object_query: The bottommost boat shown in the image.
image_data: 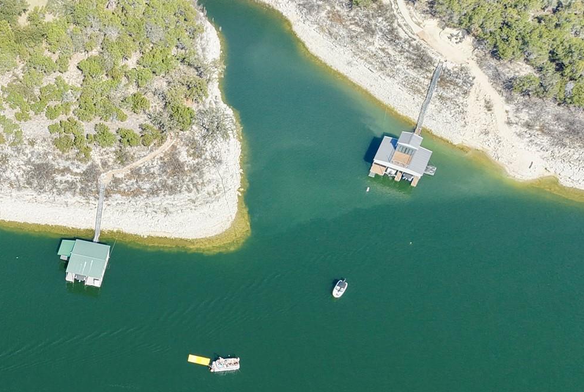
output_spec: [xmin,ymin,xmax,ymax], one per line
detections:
[208,358,242,372]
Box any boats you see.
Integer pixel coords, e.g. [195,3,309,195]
[402,171,414,184]
[385,165,398,179]
[208,358,242,372]
[335,279,349,299]
[77,275,86,286]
